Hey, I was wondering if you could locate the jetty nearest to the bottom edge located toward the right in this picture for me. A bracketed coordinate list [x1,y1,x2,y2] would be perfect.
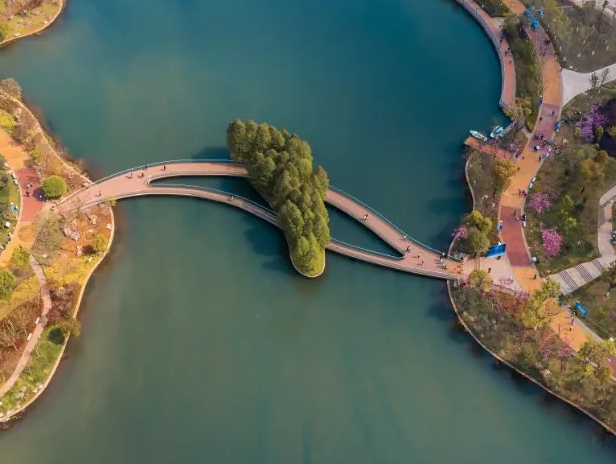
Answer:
[465,134,518,160]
